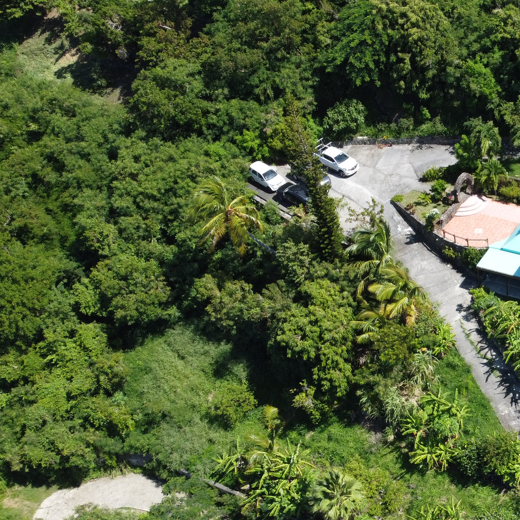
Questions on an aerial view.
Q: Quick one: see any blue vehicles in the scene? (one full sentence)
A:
No, there appears to be no blue vehicle in this shot.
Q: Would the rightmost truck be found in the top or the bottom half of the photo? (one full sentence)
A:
The top half of the photo is where the rightmost truck is.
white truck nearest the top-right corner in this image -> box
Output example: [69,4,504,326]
[314,136,361,180]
